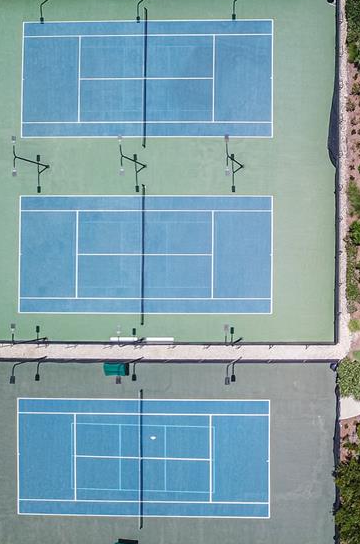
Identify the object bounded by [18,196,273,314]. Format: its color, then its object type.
blue tennis court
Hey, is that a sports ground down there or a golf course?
sports ground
